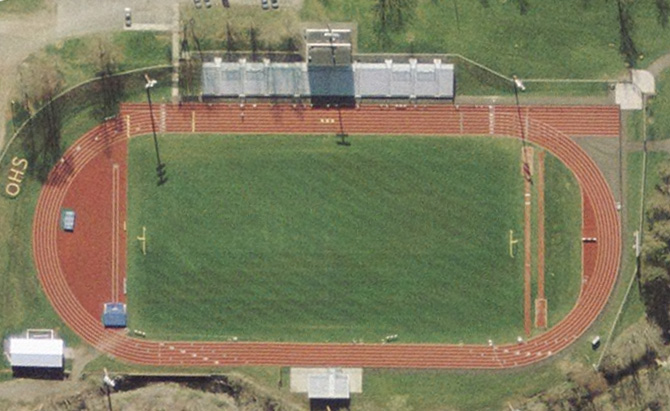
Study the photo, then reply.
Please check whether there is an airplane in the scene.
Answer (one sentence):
No, there appears to be no airplane in this shot.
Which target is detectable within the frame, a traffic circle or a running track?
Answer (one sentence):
This aerial view contains a running track.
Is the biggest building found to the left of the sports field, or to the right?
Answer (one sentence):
Relative to the sports field, the biggest building lies to the left.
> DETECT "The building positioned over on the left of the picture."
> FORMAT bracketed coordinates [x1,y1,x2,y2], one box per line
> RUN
[10,331,65,369]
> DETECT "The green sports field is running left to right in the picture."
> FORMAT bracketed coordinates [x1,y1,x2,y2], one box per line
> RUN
[127,135,581,344]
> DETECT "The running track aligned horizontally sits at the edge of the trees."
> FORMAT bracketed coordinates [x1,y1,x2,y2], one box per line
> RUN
[33,103,620,367]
